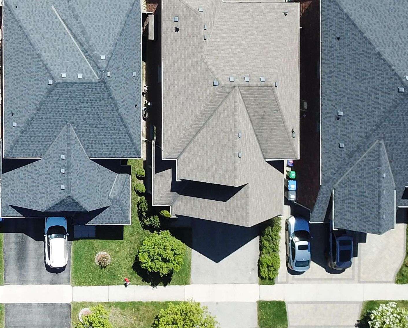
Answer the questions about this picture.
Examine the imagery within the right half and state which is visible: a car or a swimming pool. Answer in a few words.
car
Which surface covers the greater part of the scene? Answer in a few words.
buildings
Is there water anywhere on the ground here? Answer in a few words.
No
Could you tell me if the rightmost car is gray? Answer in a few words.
No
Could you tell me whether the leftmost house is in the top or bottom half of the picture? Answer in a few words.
top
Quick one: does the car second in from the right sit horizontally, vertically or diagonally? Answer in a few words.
vertically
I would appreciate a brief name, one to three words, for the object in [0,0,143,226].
house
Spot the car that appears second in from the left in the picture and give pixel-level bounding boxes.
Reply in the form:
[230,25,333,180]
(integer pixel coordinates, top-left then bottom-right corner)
[283,215,312,275]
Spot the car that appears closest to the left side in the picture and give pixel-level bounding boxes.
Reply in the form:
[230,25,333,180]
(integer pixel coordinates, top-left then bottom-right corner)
[43,218,70,269]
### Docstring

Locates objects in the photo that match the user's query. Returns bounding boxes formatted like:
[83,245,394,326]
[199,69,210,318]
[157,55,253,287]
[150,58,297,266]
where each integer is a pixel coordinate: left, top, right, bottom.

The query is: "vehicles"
[283,215,312,275]
[43,218,70,269]
[323,218,351,271]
